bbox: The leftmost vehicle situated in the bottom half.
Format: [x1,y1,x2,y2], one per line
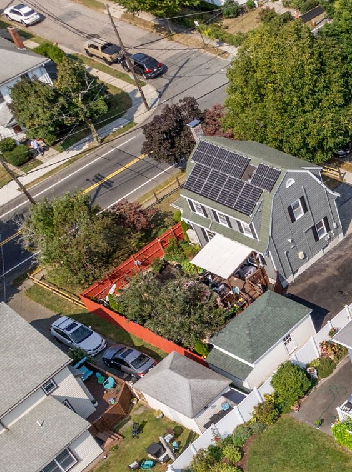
[47,313,108,356]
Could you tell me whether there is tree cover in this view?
Yes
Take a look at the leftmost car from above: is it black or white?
white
